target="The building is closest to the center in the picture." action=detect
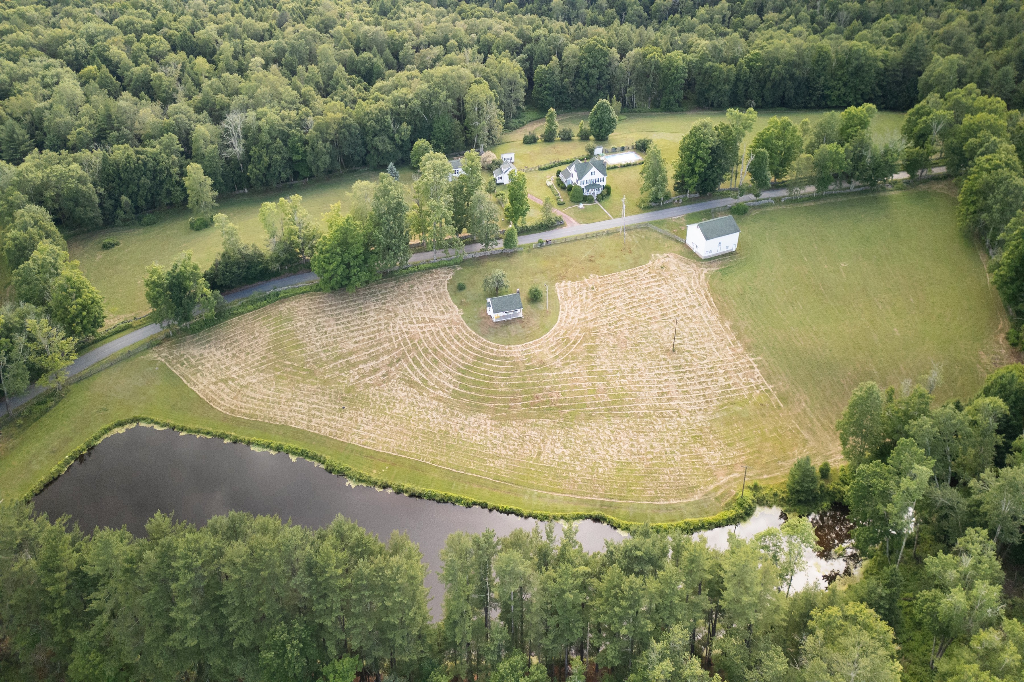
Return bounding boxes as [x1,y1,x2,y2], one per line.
[486,289,523,322]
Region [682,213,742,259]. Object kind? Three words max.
barn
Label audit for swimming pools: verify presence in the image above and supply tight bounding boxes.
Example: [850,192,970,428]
[598,152,641,164]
